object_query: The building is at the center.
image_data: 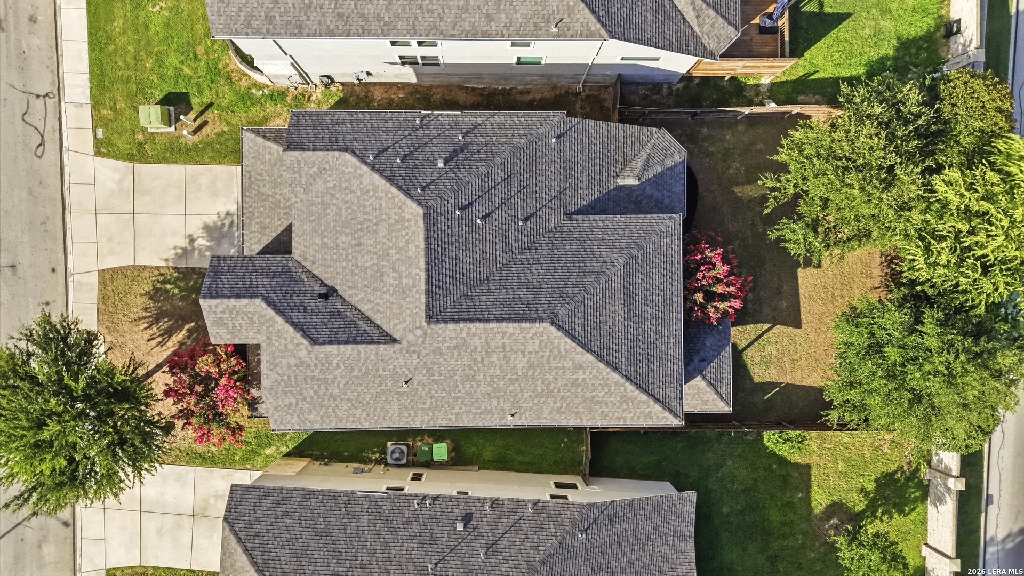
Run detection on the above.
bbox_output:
[198,108,734,432]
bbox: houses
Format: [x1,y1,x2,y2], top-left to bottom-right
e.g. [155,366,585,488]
[198,108,734,432]
[202,0,741,91]
[219,458,695,576]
